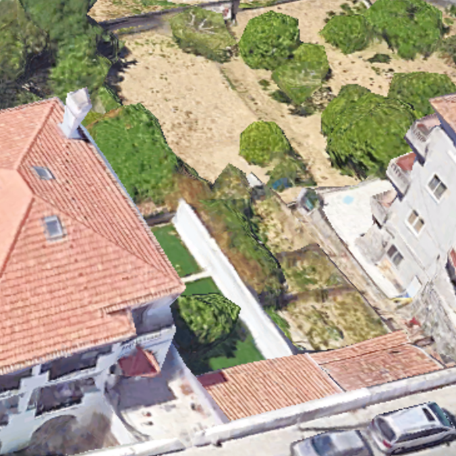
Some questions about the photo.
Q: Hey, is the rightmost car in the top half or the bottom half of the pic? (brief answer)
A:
bottom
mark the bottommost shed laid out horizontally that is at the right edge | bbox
[318,331,446,399]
